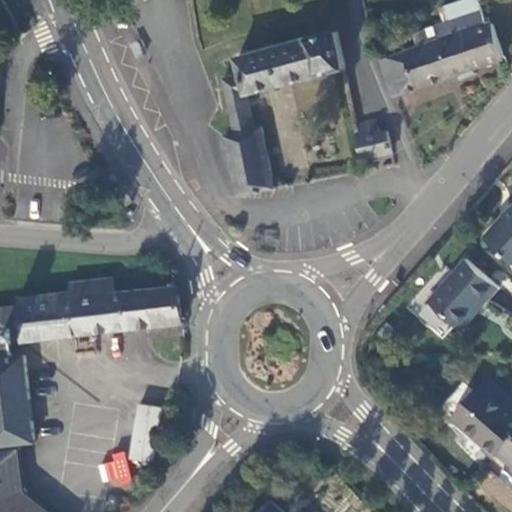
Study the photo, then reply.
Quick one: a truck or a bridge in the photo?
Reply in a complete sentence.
I can see a truck in this picture.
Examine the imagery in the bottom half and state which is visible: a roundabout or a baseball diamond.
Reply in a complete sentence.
Looking in the bottom half, you will find a roundabout.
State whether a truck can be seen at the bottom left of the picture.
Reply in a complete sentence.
Yes, you'll find a truck at the bottom left of the picture.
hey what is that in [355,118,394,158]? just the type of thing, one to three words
house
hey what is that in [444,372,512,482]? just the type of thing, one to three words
house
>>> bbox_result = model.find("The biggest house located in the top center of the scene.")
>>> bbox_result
[232,32,343,99]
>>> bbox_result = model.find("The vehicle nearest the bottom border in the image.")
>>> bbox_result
[94,450,130,484]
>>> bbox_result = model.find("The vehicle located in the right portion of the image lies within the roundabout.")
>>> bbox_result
[318,330,332,350]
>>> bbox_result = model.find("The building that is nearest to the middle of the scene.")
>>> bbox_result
[223,129,269,190]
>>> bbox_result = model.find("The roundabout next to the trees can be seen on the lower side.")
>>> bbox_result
[198,261,353,446]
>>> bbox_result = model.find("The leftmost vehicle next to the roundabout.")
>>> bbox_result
[230,248,249,268]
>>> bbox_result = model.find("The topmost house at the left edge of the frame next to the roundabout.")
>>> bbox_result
[14,277,184,352]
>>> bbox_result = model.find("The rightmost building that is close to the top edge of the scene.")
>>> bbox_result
[388,0,502,92]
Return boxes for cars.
[318,330,332,350]
[36,367,58,378]
[111,336,122,356]
[230,248,249,268]
[30,197,40,217]
[40,426,61,436]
